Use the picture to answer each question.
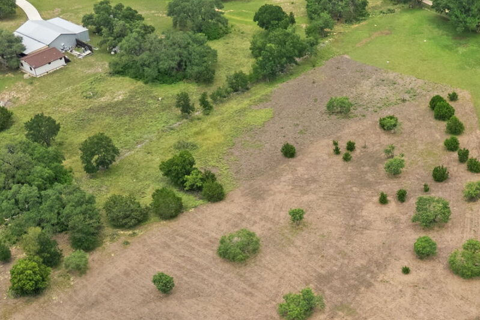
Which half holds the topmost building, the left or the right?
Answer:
left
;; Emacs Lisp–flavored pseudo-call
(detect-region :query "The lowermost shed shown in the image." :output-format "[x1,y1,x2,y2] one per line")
[19,50,65,77]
